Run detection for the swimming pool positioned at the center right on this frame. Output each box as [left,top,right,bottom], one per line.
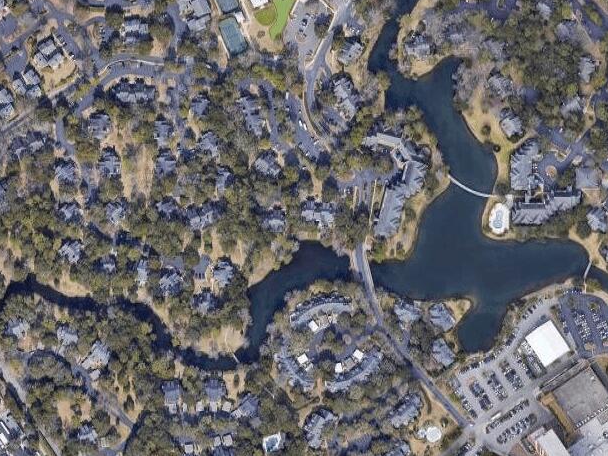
[491,203,507,233]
